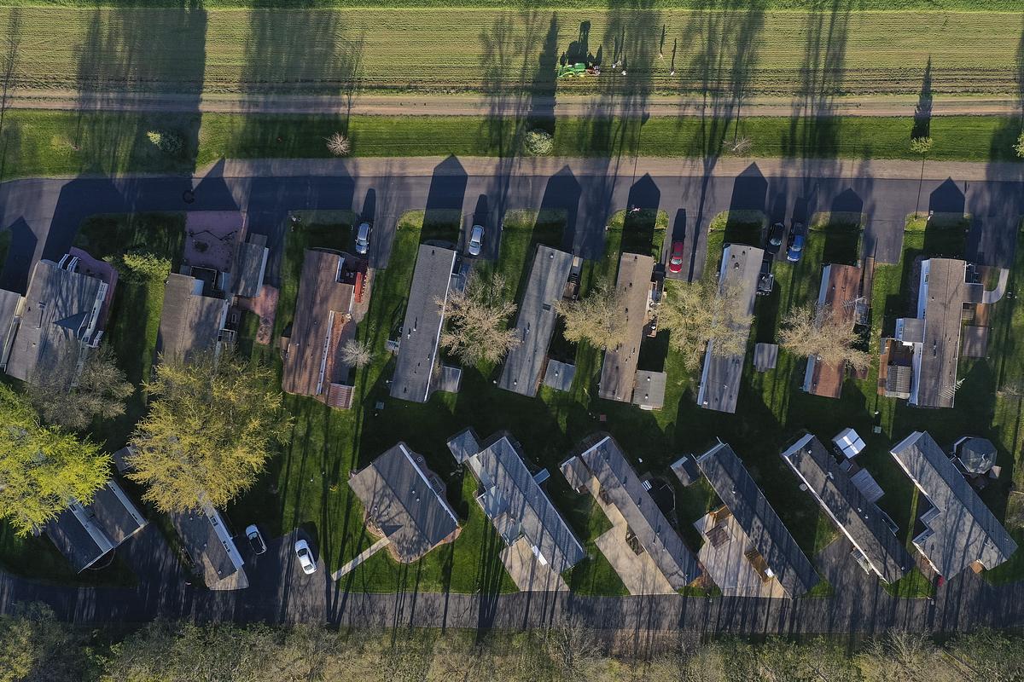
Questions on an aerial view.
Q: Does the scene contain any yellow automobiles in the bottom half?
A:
No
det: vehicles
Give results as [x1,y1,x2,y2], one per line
[354,222,372,256]
[765,222,783,256]
[667,240,684,274]
[467,224,484,257]
[294,538,317,575]
[245,523,268,557]
[558,61,587,80]
[785,223,806,263]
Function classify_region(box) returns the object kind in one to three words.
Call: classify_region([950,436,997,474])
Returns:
gazebo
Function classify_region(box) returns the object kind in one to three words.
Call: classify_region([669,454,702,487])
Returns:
shed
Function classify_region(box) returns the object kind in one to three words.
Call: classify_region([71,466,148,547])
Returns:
house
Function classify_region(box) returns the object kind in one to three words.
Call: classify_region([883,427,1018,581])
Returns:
house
